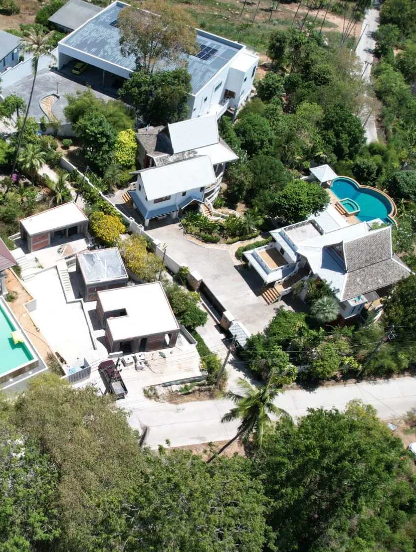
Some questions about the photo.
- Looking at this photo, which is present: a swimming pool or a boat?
swimming pool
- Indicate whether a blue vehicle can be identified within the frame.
No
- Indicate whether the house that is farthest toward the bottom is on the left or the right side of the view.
left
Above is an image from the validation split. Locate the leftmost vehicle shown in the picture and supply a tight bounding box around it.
[70,60,88,75]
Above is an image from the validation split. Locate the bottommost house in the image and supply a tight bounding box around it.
[94,280,179,358]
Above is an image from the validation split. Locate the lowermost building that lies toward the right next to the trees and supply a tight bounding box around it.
[241,205,414,330]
